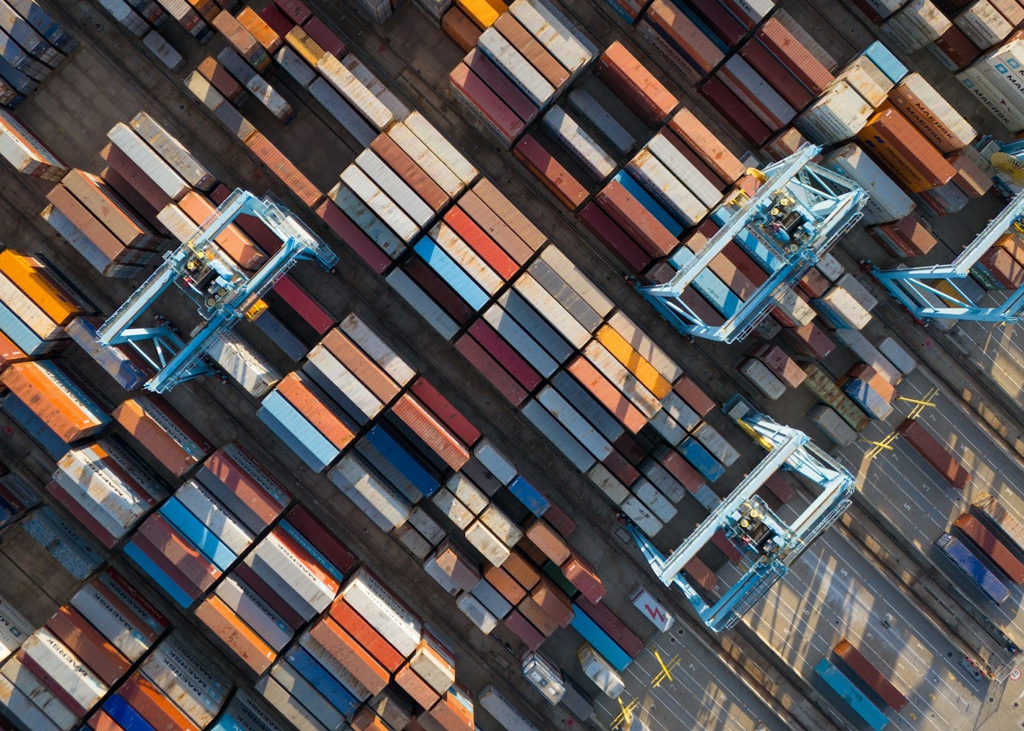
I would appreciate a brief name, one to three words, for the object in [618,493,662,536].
shipping container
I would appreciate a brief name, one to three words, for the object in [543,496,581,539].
shipping container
